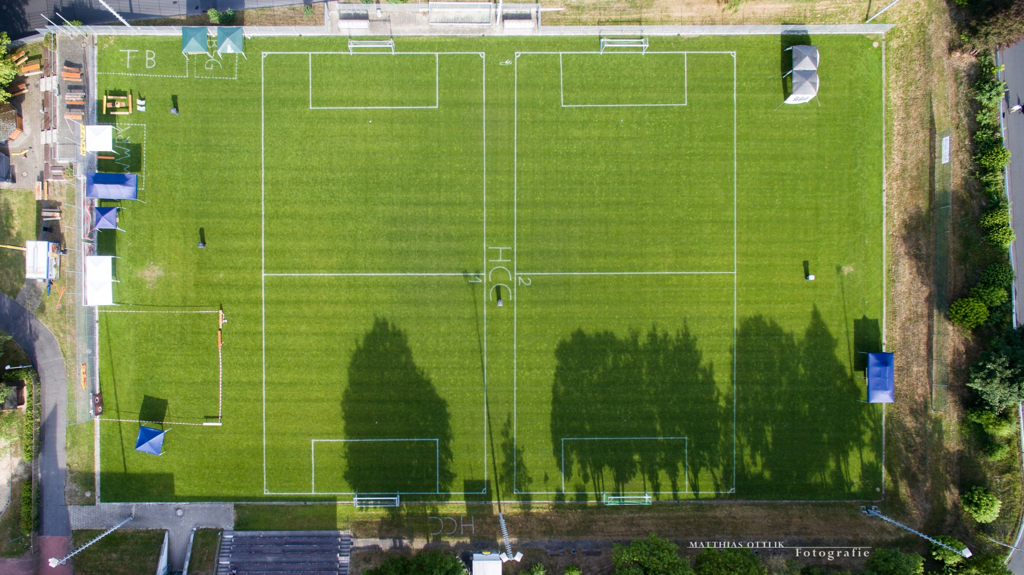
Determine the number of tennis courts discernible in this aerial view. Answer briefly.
zero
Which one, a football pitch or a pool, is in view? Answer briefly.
football pitch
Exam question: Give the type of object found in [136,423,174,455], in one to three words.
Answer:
tent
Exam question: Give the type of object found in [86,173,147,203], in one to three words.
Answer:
tent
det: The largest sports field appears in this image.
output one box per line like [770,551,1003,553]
[95,33,885,535]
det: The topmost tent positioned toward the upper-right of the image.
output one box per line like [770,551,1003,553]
[782,45,820,77]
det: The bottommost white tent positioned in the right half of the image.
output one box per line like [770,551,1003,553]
[780,70,821,106]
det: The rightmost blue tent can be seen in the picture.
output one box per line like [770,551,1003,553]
[856,352,894,403]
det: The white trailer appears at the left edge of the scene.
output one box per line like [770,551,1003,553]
[26,241,62,292]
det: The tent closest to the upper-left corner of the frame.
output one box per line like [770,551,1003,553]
[86,125,122,156]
